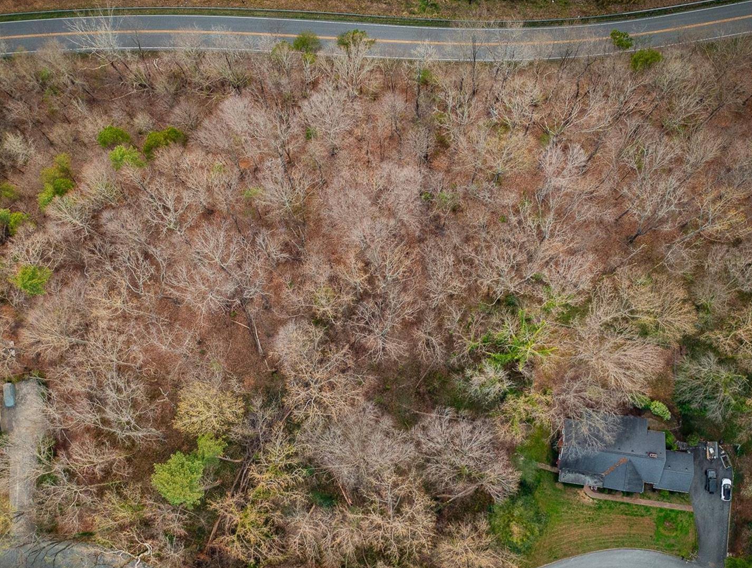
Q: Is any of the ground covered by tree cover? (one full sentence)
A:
Yes, some tree cover is visible.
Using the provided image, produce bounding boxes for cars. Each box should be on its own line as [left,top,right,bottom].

[705,469,719,494]
[719,476,734,503]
